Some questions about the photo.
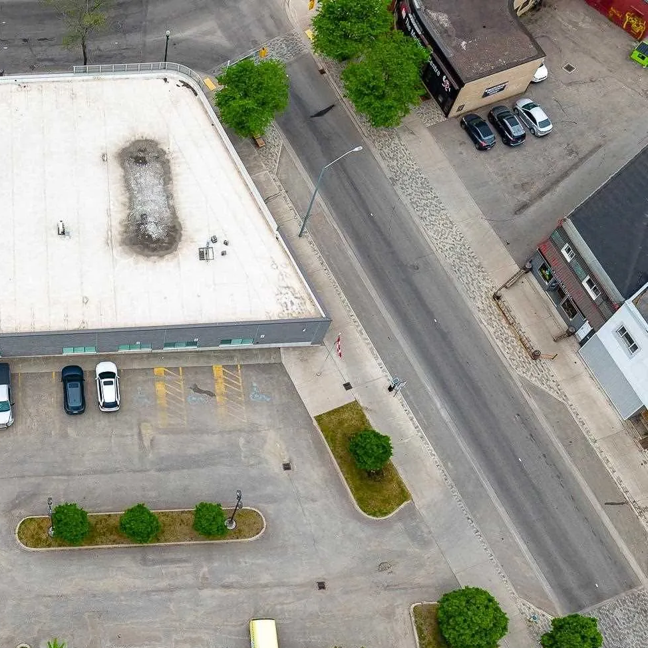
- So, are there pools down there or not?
No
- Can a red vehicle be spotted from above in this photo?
No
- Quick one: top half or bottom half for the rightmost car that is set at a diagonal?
top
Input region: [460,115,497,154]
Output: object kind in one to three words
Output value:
car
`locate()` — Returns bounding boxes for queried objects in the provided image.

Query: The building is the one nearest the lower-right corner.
[578,287,648,427]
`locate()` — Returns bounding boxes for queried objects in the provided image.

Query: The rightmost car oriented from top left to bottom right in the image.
[514,99,554,140]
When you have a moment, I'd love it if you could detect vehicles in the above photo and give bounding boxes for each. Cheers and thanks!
[487,105,527,151]
[514,99,554,140]
[530,38,549,84]
[249,618,278,648]
[0,364,14,431]
[59,366,87,418]
[93,362,121,415]
[460,115,497,154]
